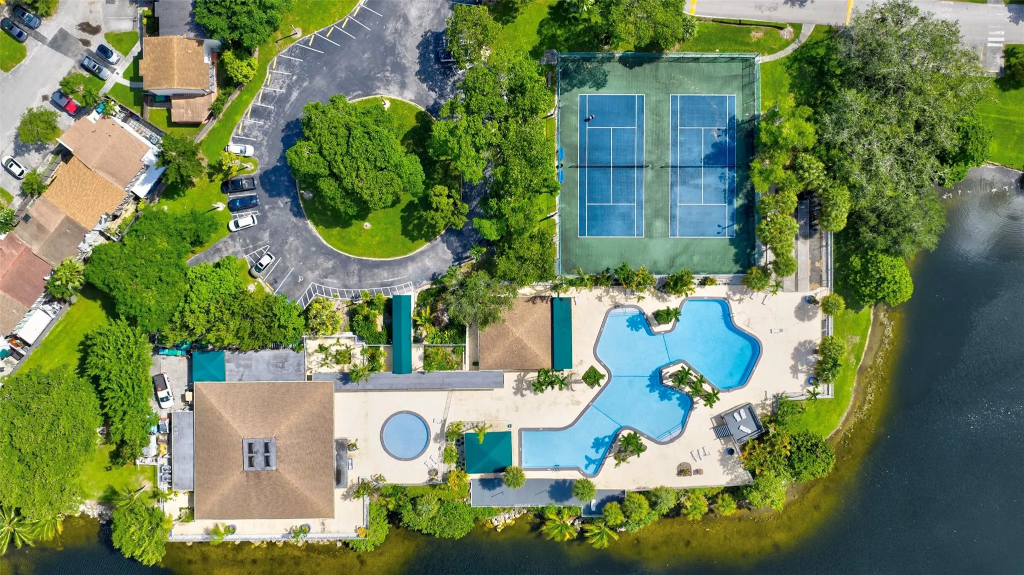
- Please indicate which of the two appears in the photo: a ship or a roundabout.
roundabout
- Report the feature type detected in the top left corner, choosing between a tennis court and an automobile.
automobile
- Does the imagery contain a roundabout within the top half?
Yes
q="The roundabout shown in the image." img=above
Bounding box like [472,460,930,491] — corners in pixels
[295,95,462,259]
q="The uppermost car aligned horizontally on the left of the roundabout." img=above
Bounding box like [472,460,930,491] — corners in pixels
[226,143,255,157]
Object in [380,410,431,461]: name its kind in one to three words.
swimming pool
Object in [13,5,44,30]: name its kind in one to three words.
car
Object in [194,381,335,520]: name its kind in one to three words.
building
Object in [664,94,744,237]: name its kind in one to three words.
tennis court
